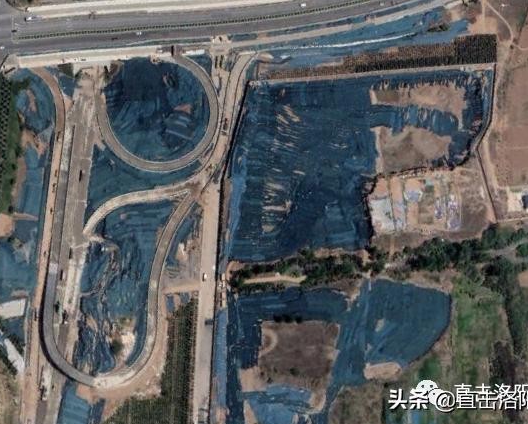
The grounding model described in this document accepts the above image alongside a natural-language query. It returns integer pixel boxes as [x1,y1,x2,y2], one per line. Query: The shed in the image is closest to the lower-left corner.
[2,338,27,374]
